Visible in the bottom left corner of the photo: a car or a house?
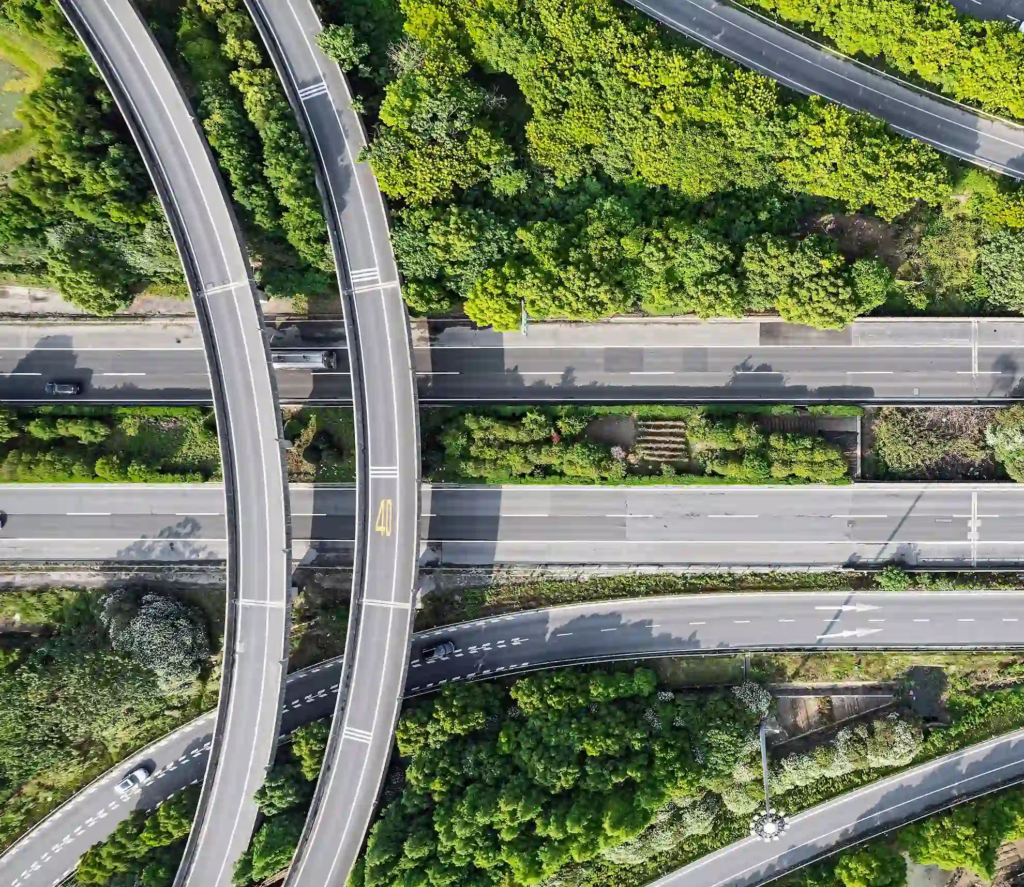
car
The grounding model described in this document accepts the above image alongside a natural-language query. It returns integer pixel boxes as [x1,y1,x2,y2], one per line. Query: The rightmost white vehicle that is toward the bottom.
[114,766,151,795]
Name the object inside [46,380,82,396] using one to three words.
car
